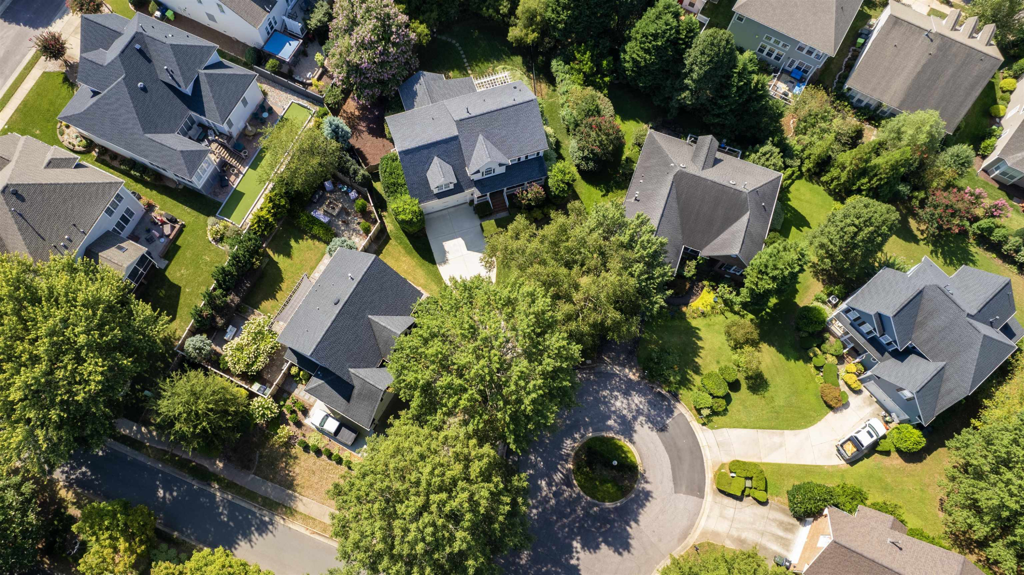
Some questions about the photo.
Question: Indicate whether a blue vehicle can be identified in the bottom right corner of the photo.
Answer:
No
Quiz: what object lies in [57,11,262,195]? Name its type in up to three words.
house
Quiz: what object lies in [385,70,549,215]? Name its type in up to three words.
house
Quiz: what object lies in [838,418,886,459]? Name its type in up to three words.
truck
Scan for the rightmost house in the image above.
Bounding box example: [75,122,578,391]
[985,105,1024,192]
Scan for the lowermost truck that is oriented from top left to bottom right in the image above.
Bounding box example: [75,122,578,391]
[310,409,359,447]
